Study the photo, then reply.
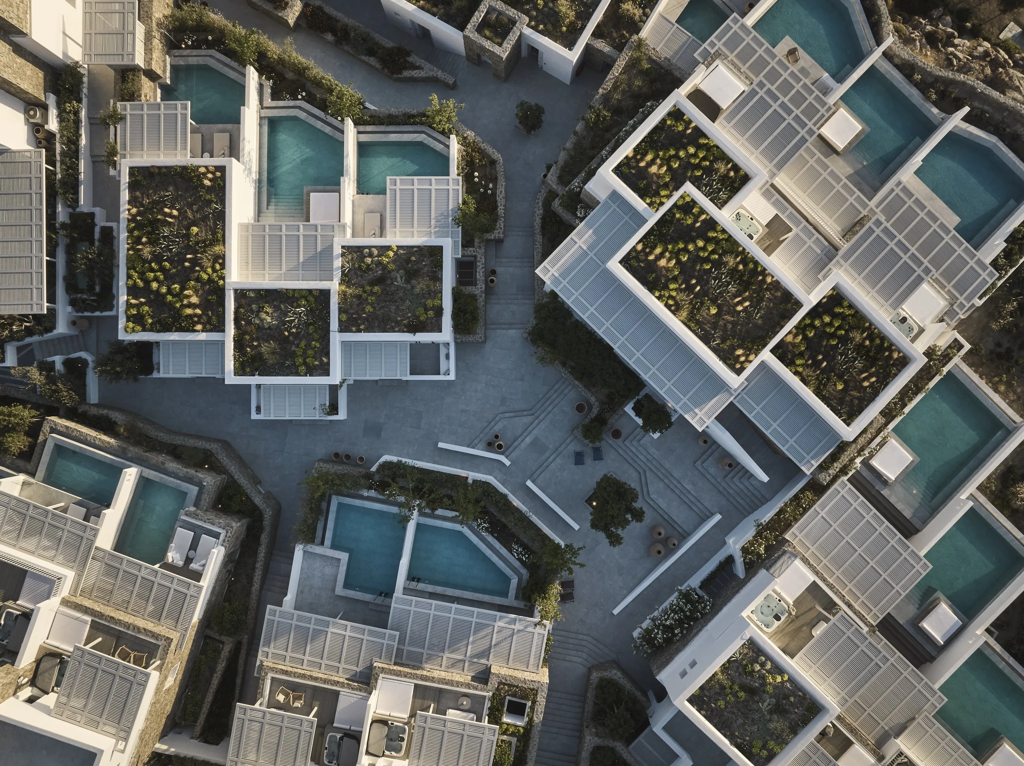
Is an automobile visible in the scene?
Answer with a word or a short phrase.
No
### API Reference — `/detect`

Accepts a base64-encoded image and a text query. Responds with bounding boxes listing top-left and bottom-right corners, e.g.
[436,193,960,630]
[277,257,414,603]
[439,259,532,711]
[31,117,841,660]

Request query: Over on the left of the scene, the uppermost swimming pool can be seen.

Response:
[161,49,247,124]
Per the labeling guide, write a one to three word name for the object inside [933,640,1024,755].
swimming pool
